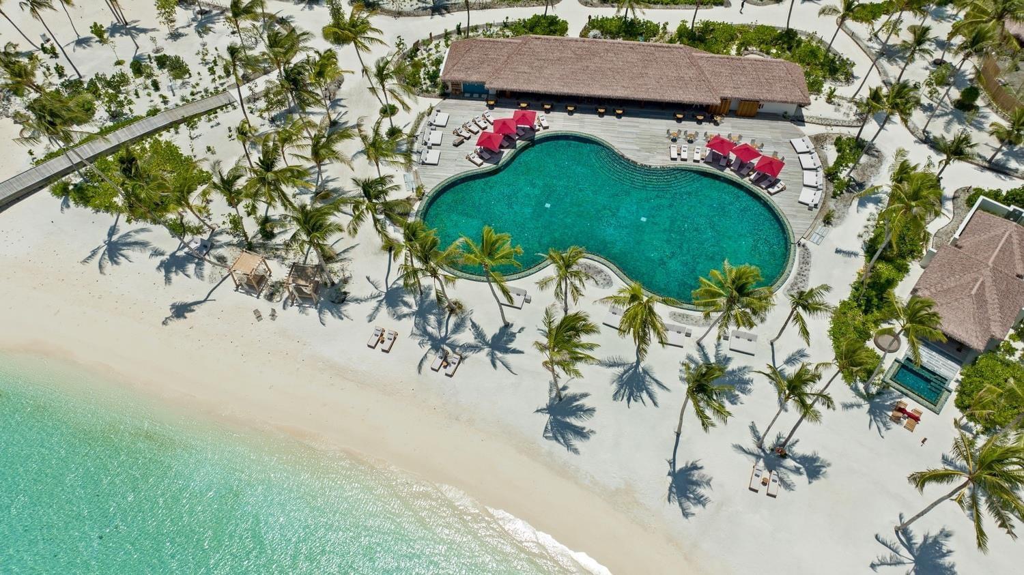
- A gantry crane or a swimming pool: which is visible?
swimming pool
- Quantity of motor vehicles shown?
0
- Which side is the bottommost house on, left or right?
right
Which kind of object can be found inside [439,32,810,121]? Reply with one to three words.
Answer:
building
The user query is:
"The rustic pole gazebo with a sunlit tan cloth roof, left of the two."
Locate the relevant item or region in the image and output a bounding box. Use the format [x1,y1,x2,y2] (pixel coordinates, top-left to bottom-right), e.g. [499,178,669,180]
[227,248,271,291]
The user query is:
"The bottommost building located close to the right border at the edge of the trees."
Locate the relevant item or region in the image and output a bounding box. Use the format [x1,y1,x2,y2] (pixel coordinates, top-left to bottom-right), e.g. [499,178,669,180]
[900,198,1024,380]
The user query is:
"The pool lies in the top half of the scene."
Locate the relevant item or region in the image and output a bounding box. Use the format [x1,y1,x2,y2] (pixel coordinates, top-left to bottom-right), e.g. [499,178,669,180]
[414,130,796,313]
